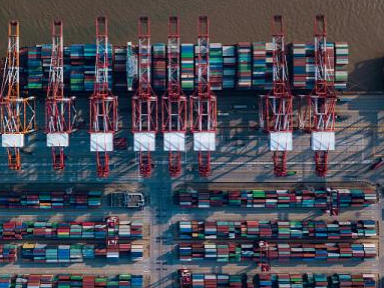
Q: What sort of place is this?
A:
port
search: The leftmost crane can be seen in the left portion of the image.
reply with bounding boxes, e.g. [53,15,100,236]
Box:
[0,20,45,173]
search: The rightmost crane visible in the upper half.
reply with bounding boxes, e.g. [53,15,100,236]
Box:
[291,15,337,177]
